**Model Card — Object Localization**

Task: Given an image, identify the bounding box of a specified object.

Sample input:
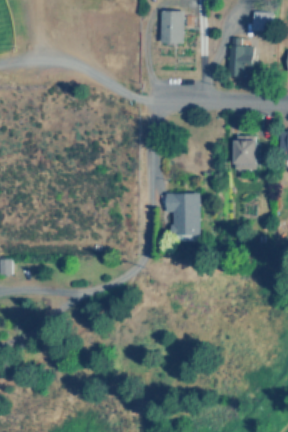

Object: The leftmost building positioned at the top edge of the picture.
[161,10,186,44]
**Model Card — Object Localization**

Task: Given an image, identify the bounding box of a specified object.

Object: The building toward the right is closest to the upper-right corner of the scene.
[254,11,276,34]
